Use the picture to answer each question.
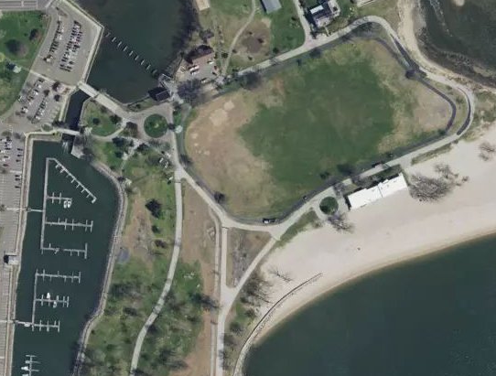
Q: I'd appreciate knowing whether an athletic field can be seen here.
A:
Yes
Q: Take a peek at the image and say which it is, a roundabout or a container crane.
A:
roundabout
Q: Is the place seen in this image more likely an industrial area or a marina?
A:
marina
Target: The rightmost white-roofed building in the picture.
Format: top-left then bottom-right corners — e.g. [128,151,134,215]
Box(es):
[379,173,408,197]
